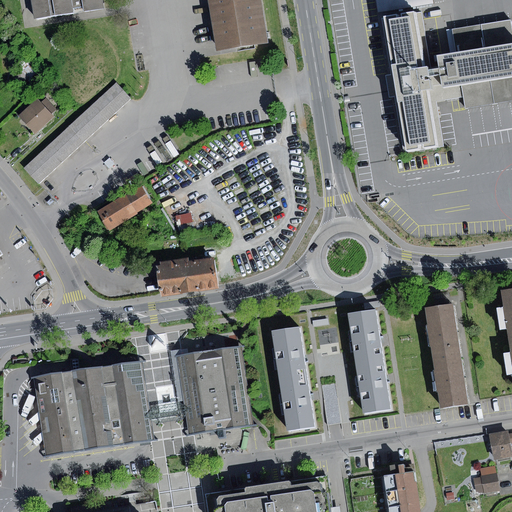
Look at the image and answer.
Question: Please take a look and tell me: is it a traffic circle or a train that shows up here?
traffic circle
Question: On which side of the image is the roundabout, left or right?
right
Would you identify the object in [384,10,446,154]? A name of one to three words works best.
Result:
building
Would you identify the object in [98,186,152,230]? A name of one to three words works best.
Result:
house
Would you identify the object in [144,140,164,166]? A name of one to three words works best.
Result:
vehicle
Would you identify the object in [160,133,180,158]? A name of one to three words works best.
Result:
truck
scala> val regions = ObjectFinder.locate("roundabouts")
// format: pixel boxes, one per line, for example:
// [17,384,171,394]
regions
[306,218,394,296]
